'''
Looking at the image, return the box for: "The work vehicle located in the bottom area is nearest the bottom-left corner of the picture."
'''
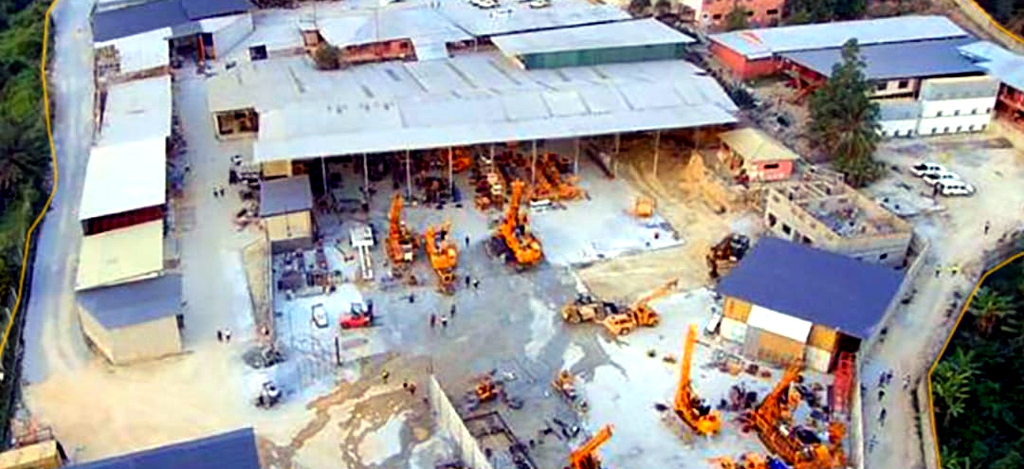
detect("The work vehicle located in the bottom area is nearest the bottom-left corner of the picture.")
[244,380,282,418]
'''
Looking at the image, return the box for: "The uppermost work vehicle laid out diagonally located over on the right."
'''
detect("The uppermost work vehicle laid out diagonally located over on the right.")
[706,232,751,279]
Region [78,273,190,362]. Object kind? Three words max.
building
